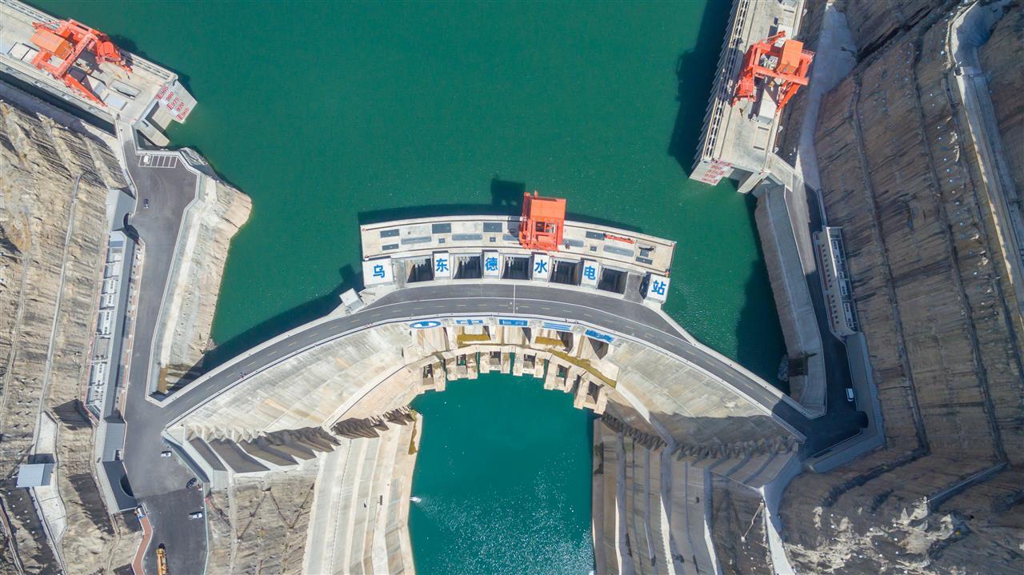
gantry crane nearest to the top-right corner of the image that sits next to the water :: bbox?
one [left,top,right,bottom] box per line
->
[731,32,818,119]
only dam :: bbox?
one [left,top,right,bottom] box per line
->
[162,213,811,454]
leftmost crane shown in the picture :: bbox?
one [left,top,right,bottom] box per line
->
[26,15,133,109]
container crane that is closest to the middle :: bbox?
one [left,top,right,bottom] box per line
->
[515,192,566,250]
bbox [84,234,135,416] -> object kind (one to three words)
building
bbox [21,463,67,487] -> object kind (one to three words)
shed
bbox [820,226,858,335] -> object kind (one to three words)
building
